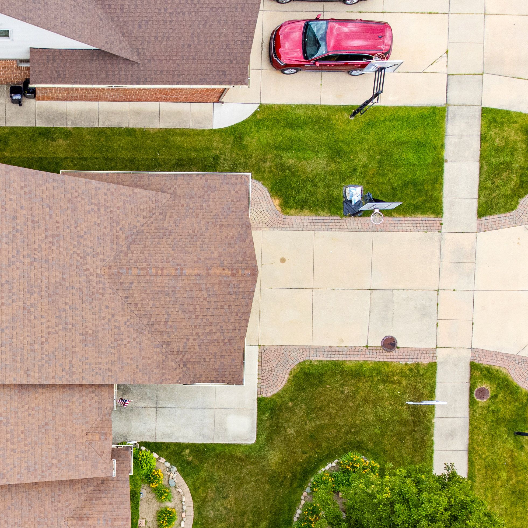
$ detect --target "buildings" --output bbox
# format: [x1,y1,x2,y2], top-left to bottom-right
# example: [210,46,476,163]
[0,163,259,528]
[0,0,261,110]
